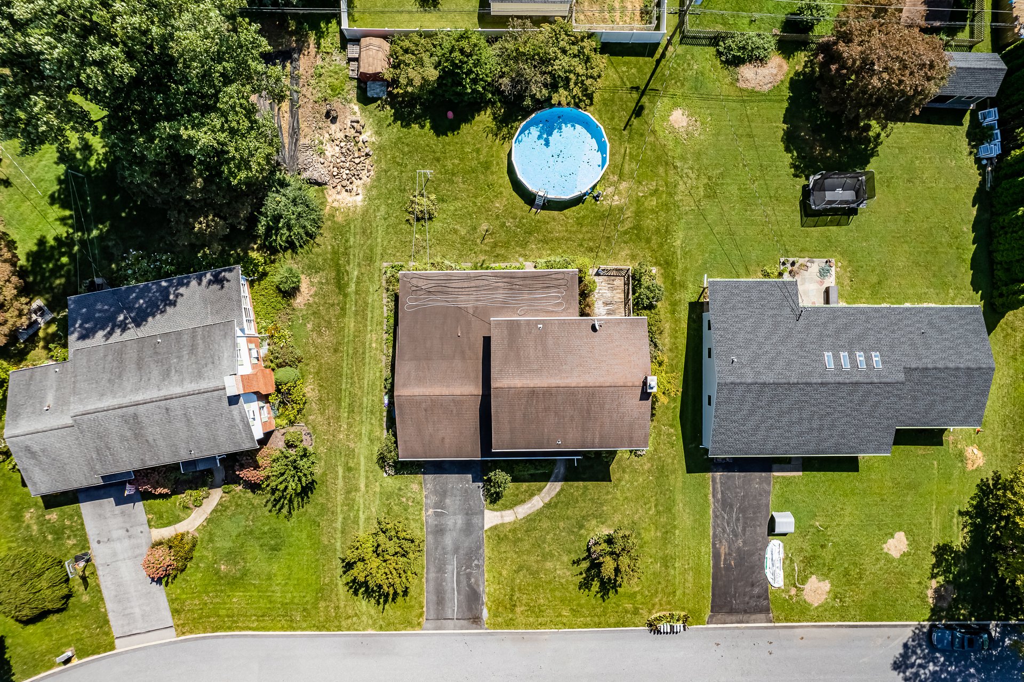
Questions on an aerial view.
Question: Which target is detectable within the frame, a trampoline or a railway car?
trampoline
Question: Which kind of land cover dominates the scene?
grass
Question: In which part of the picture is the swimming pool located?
top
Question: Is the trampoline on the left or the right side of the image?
right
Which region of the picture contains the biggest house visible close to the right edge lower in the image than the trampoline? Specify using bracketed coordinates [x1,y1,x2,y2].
[696,277,995,457]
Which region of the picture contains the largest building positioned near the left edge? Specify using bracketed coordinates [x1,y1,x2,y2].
[4,264,285,498]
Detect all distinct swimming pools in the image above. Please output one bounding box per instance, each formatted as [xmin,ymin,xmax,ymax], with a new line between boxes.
[513,105,608,203]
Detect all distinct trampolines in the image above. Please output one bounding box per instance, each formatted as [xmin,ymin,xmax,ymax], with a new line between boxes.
[805,171,877,211]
